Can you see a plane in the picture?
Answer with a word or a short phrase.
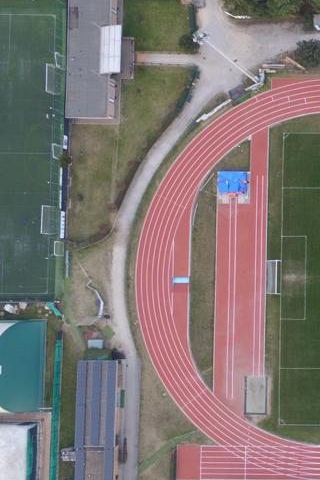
No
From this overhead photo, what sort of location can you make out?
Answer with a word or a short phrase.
sports ground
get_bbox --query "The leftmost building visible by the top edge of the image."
[65,0,119,121]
